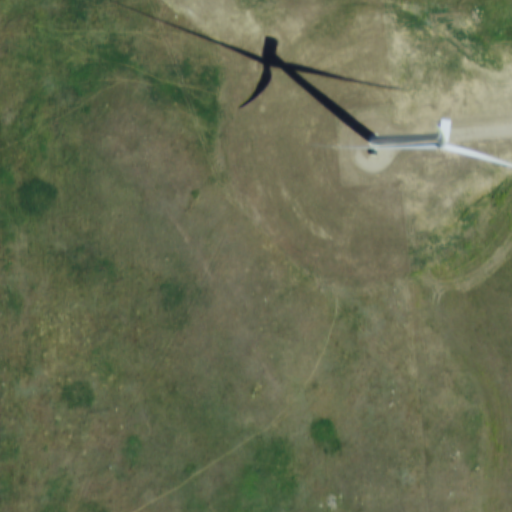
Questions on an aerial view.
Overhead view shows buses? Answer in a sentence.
No, no bus is visible in the scene.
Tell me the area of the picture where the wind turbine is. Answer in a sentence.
The wind turbine is located in the top right region of the scene.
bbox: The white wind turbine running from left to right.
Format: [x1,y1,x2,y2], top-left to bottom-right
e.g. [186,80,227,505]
[320,114,512,165]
